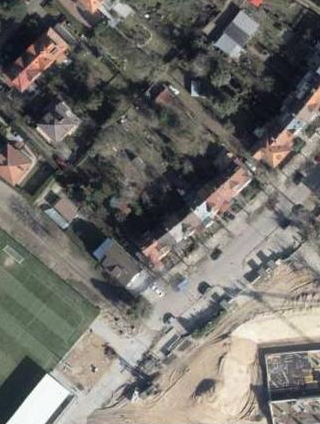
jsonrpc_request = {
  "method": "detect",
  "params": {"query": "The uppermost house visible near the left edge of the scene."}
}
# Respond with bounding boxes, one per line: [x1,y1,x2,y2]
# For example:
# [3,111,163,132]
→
[6,30,71,92]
